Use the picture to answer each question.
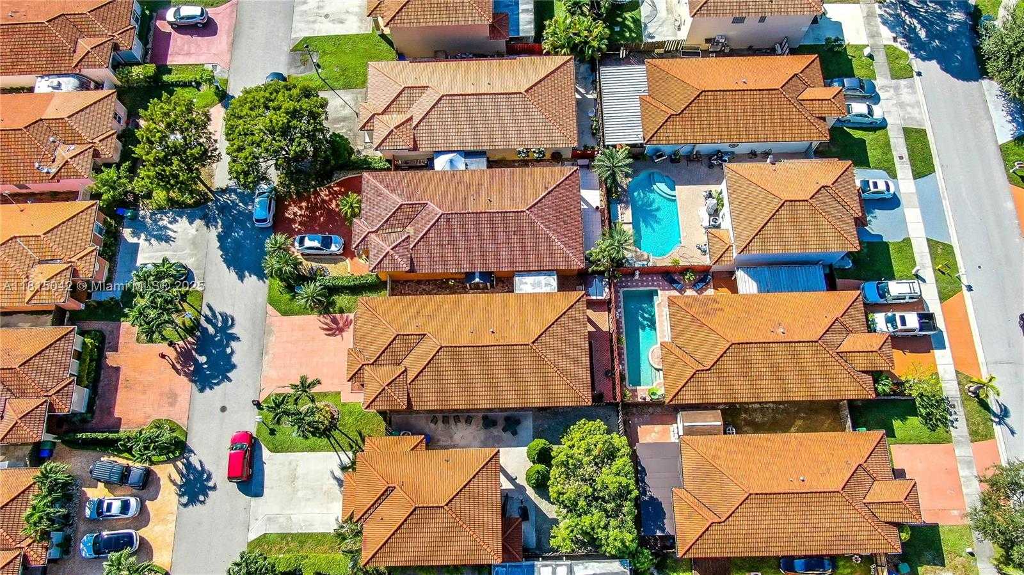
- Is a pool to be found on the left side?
No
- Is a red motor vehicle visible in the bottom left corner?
Yes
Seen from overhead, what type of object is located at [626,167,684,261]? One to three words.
swimming pool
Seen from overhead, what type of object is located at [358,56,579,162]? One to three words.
house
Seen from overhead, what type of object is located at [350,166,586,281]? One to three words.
house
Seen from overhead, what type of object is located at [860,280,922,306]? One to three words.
car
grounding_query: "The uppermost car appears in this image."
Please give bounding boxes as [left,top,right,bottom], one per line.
[167,4,208,28]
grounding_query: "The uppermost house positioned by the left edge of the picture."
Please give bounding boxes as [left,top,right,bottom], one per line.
[0,0,148,89]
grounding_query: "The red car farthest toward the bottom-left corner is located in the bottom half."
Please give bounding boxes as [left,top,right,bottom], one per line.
[227,430,256,484]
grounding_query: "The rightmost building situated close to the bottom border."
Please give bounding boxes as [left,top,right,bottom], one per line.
[672,430,926,559]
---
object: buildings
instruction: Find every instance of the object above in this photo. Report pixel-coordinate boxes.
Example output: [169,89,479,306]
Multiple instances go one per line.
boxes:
[661,290,895,404]
[365,0,510,56]
[0,325,90,443]
[672,430,926,559]
[638,53,844,155]
[706,159,858,272]
[0,200,109,316]
[358,56,579,162]
[350,166,586,281]
[346,291,592,411]
[0,89,128,194]
[688,0,825,45]
[0,0,148,89]
[340,433,525,573]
